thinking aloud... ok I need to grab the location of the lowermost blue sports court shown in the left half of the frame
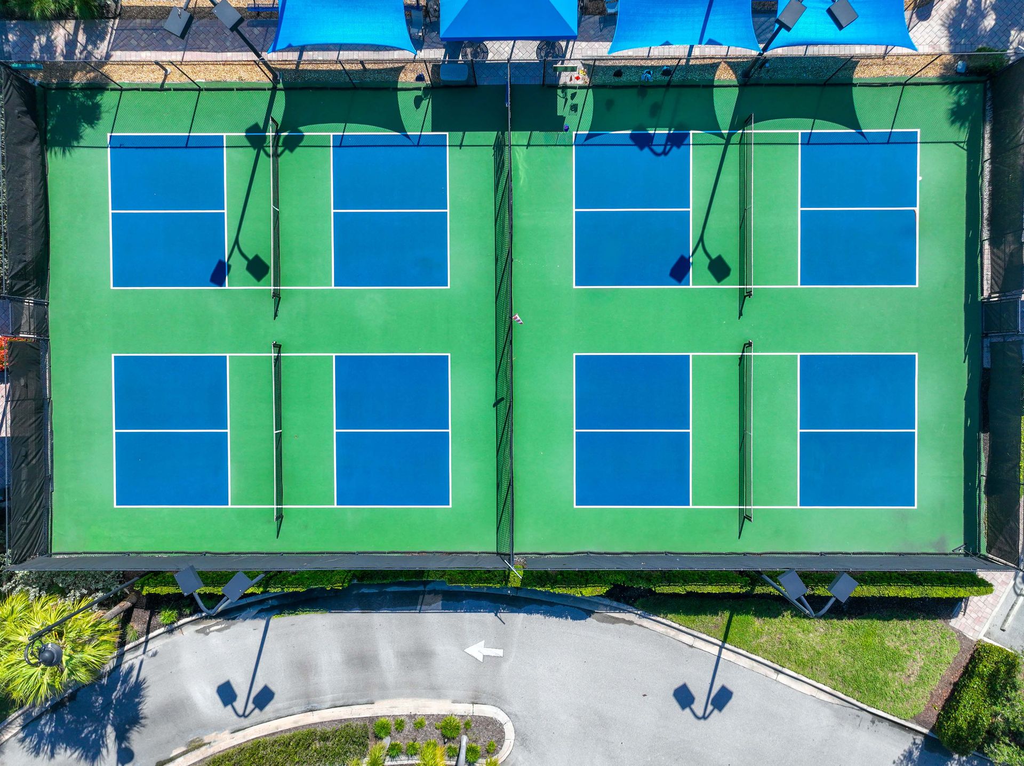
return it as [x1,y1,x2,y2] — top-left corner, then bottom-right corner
[111,353,451,508]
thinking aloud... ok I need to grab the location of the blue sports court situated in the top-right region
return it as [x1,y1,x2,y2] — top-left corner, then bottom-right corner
[573,128,921,288]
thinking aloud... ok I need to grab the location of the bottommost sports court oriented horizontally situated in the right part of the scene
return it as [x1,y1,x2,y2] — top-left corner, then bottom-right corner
[573,352,918,508]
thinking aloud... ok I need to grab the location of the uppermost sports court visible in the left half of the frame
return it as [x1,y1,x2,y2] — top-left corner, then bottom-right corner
[108,131,450,289]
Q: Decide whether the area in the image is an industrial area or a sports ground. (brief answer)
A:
sports ground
